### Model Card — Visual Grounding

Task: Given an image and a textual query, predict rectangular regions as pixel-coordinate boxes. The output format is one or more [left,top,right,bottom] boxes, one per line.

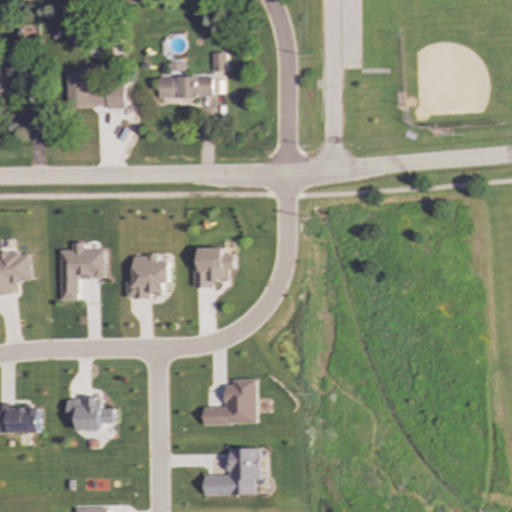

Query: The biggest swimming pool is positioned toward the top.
[163,32,190,60]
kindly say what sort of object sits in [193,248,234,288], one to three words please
house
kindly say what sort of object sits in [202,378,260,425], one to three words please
house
